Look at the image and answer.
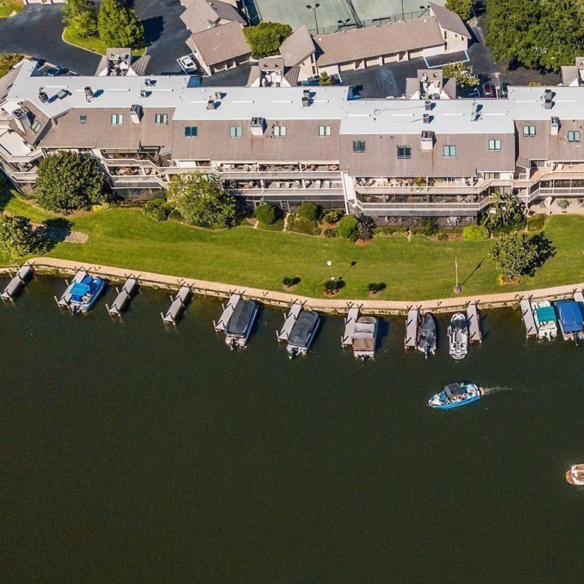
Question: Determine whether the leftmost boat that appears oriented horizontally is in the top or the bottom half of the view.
bottom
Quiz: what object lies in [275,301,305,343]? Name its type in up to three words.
pier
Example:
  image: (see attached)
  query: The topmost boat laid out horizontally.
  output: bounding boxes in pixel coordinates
[427,384,492,410]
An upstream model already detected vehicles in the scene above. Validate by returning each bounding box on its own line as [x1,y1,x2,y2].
[41,61,67,73]
[178,53,195,69]
[499,73,513,95]
[482,76,494,94]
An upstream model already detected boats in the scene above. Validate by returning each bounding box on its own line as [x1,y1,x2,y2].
[554,296,583,345]
[427,384,492,410]
[287,309,322,360]
[563,462,584,485]
[447,310,468,363]
[533,297,556,342]
[226,296,259,350]
[353,314,377,363]
[418,310,437,355]
[70,274,104,314]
